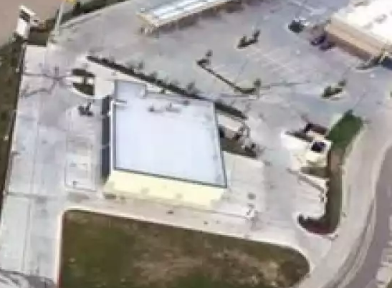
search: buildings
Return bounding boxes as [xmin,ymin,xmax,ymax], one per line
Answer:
[100,84,222,210]
[320,7,392,67]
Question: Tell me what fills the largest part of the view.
paved ground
